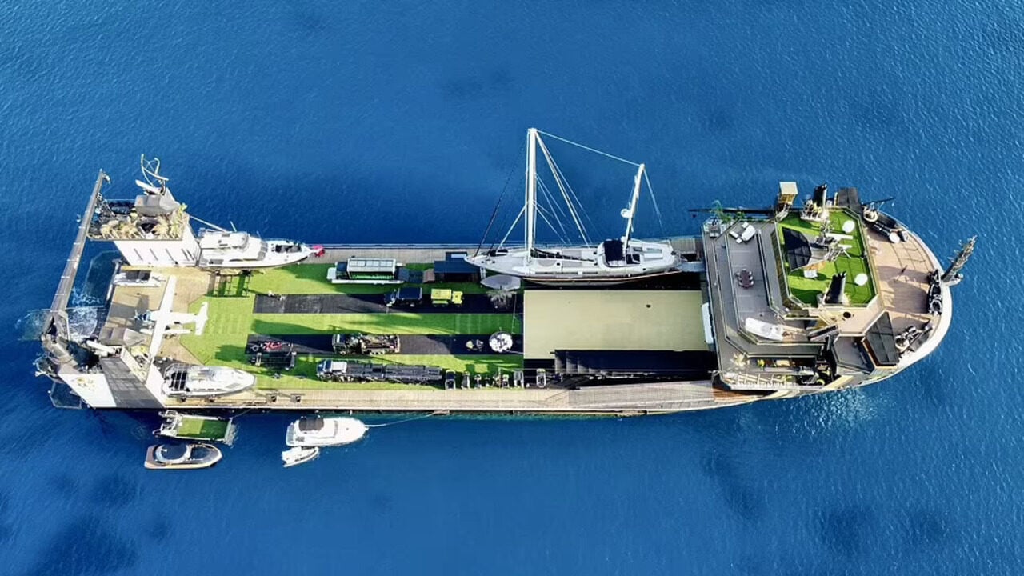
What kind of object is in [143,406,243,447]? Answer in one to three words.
boat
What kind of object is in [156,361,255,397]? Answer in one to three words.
boat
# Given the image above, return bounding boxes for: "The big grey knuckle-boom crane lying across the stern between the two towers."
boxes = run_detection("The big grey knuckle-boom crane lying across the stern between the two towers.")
[30,169,113,381]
